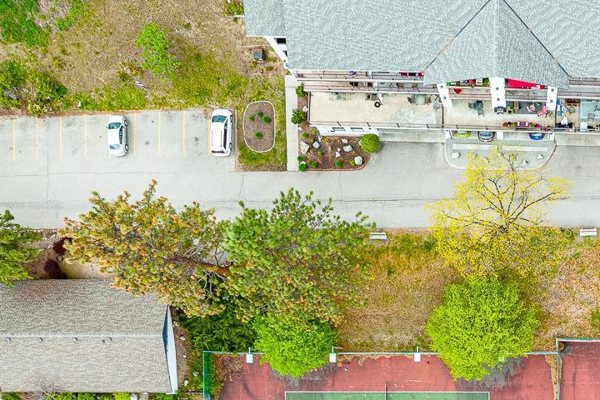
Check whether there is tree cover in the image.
Yes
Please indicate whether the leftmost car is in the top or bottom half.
top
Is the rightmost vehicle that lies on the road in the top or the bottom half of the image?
top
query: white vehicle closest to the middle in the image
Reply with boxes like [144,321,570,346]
[209,109,233,155]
